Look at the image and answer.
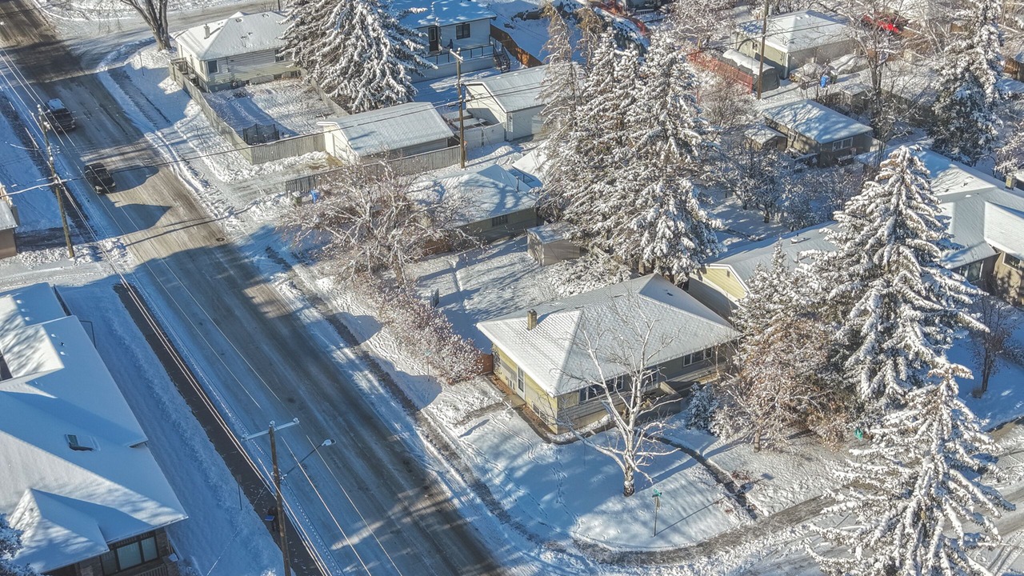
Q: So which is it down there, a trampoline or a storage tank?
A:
trampoline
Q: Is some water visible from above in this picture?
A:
No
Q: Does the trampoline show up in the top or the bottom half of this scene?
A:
top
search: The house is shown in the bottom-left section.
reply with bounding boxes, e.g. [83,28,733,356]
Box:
[0,278,194,576]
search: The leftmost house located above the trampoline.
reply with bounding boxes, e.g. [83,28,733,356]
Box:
[167,0,313,88]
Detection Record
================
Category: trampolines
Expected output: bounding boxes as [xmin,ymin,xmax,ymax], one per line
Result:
[241,111,279,145]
